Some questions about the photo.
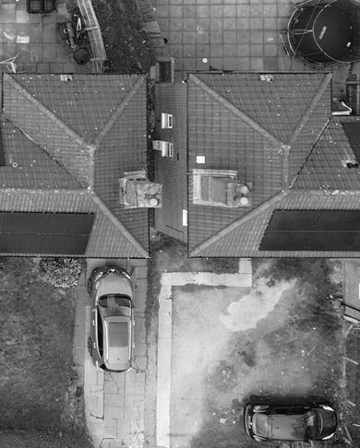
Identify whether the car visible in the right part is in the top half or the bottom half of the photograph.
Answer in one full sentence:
The car visible in the right part is in the bottom half of the image.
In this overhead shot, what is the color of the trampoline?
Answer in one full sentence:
In this view, the trampoline is black.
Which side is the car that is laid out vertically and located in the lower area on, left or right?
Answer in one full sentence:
The car that is laid out vertically and located in the lower area appears in the left half of the scene.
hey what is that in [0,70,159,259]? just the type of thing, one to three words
house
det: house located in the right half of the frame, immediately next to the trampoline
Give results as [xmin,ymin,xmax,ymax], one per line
[150,70,360,259]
